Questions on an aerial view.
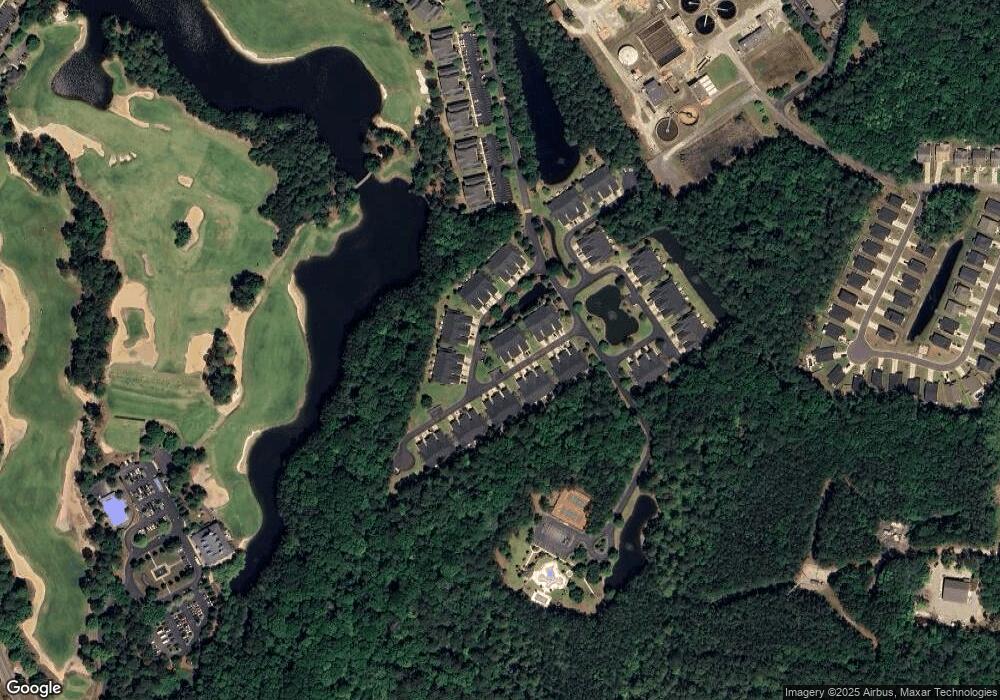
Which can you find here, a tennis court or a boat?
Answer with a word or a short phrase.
tennis court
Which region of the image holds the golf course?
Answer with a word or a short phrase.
left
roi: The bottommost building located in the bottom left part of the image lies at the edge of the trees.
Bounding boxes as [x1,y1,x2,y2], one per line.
[189,520,234,567]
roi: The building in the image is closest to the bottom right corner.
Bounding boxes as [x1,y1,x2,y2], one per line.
[941,577,972,604]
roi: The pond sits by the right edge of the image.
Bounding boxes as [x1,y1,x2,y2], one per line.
[907,241,963,341]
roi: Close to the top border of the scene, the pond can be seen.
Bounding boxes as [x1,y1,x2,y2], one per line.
[513,21,579,185]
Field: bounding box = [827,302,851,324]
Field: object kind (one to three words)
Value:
house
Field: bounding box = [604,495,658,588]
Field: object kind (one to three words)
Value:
pond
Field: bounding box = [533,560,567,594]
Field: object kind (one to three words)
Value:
swimming pool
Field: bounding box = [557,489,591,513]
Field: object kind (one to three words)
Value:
tennis court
